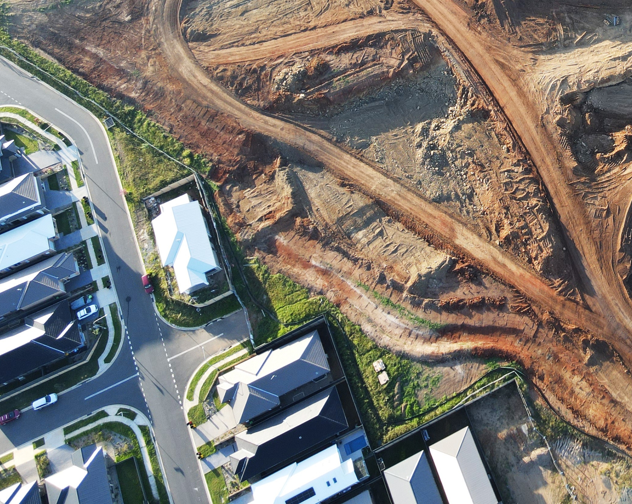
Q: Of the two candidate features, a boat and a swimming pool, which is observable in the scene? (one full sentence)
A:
I can see a swimming pool in this picture.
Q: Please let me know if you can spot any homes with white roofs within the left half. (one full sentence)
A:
Yes, a home with a white roof appears within the left half.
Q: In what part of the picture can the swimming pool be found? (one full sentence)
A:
The swimming pool is located in the bottom region of the scene.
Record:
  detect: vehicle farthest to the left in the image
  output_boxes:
[0,407,20,425]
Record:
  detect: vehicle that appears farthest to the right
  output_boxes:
[138,271,154,295]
